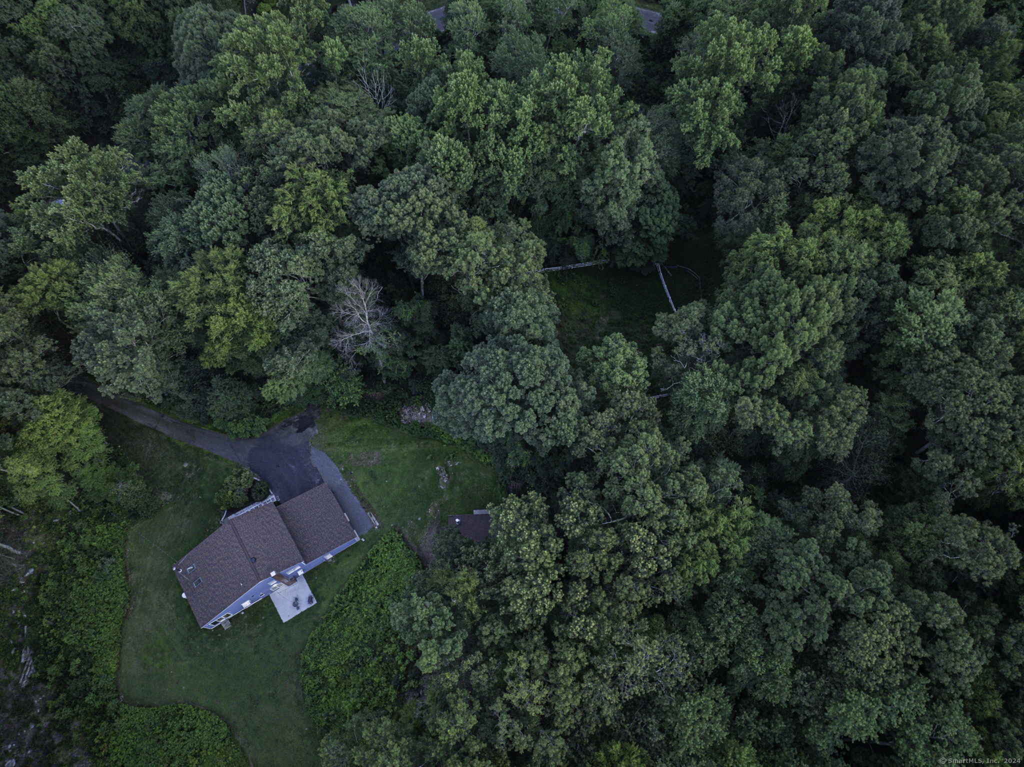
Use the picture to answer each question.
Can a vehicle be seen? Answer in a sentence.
No, the frame has no vehicle in it.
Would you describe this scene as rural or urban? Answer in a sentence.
It looks rural.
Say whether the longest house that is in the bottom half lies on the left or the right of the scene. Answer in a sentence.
The longest house that is in the bottom half is on the left side of the image.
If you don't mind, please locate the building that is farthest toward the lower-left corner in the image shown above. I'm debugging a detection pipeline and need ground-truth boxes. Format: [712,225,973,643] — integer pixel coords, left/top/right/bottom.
[174,480,361,629]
